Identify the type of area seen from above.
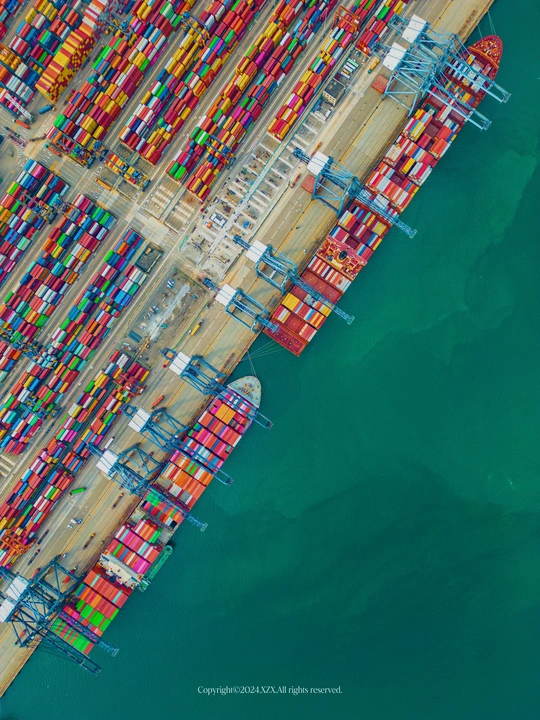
port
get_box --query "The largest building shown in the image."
[323,79,346,108]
